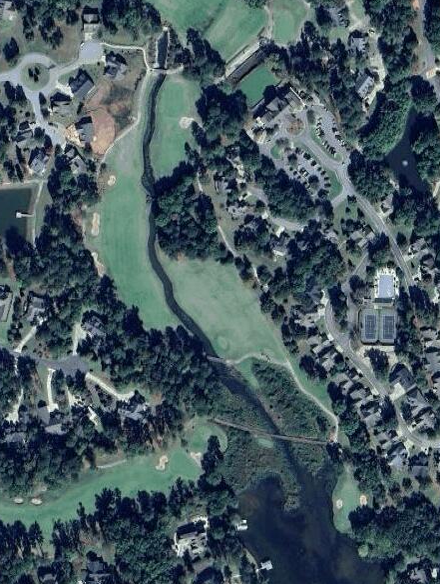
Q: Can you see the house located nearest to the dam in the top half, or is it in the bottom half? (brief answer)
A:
top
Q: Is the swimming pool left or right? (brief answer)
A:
right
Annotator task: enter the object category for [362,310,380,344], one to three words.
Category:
tennis court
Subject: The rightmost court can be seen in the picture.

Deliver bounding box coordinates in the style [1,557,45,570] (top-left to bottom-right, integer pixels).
[380,310,397,344]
